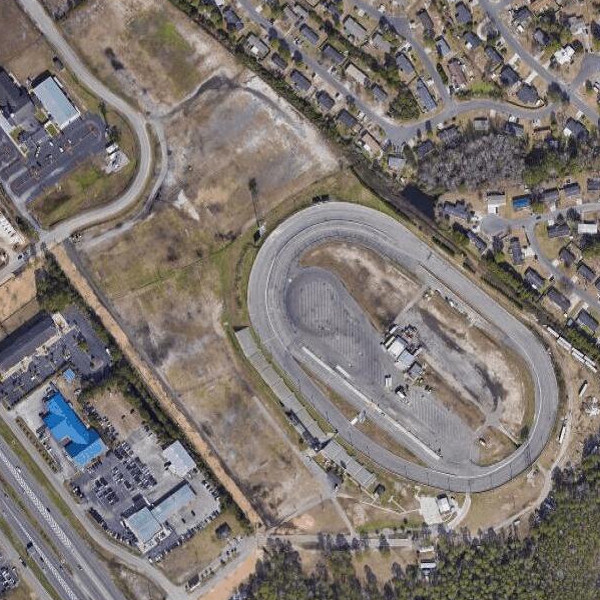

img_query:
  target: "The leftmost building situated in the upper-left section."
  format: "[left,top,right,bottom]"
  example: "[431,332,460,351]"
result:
[0,64,45,143]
